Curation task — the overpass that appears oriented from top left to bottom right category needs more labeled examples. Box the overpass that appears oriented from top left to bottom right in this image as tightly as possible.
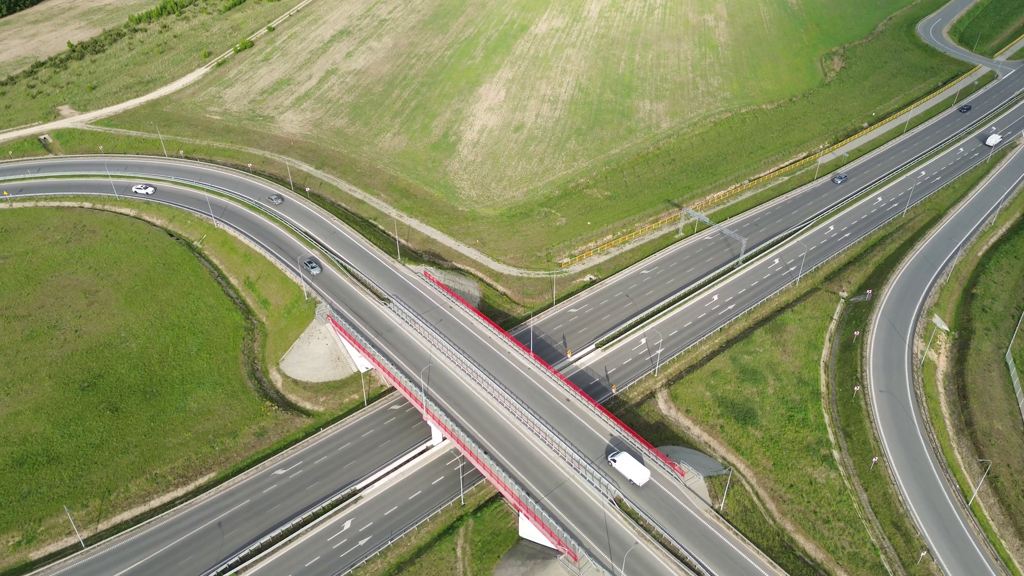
[330,275,678,552]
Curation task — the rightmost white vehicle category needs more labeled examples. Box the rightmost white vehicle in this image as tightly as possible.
[987,131,1004,144]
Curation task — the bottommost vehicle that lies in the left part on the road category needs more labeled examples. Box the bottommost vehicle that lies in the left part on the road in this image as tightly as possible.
[302,258,321,274]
